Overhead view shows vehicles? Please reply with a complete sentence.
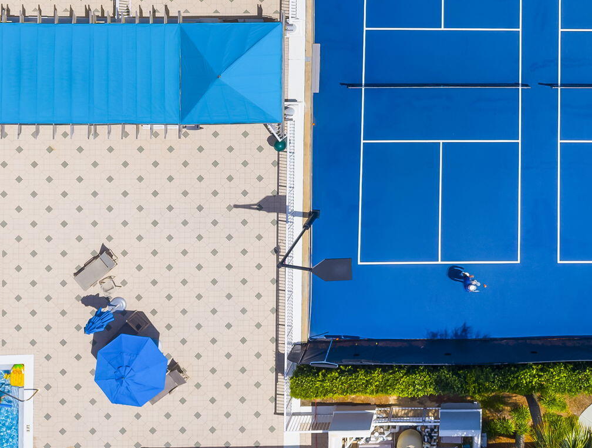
No, the frame has no vehicle in it.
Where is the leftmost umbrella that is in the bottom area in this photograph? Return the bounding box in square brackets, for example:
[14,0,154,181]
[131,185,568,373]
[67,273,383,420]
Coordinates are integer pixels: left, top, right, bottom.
[87,295,126,332]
